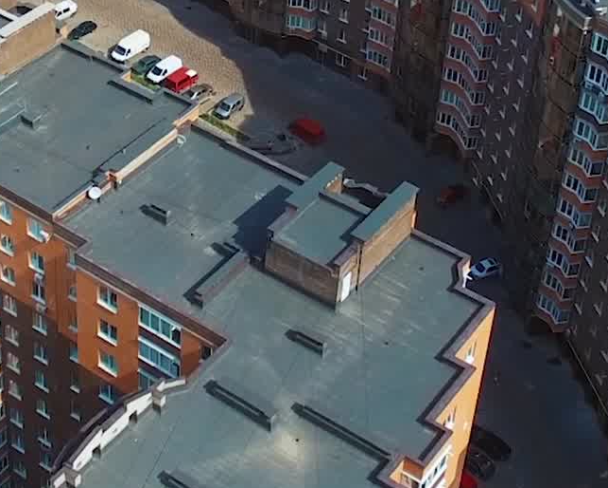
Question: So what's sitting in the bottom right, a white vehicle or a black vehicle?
black vehicle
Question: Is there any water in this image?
No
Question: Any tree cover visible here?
No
